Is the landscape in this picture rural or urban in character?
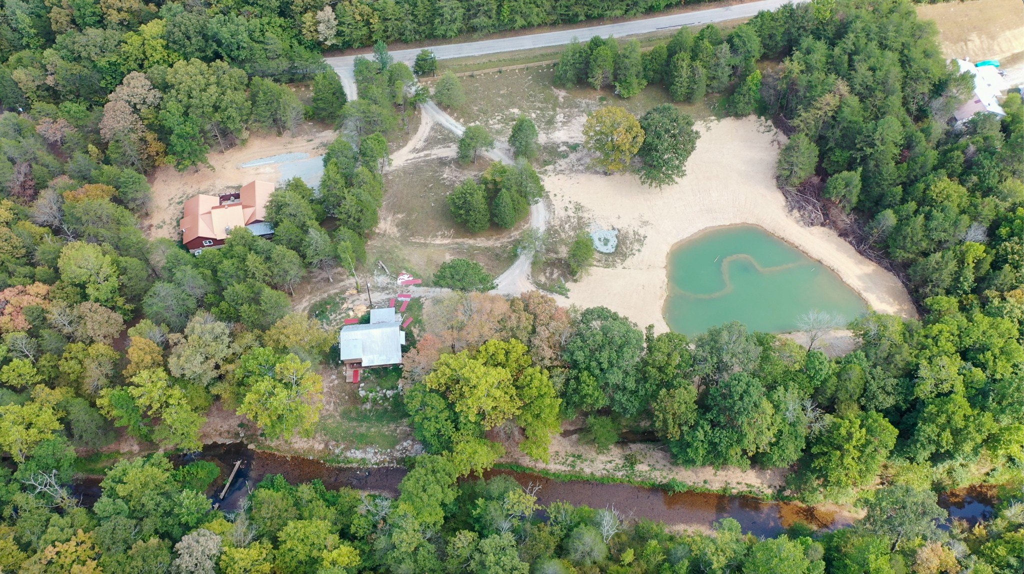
rural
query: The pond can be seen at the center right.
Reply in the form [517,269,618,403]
[671,228,861,330]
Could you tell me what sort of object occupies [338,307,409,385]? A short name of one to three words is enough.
building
